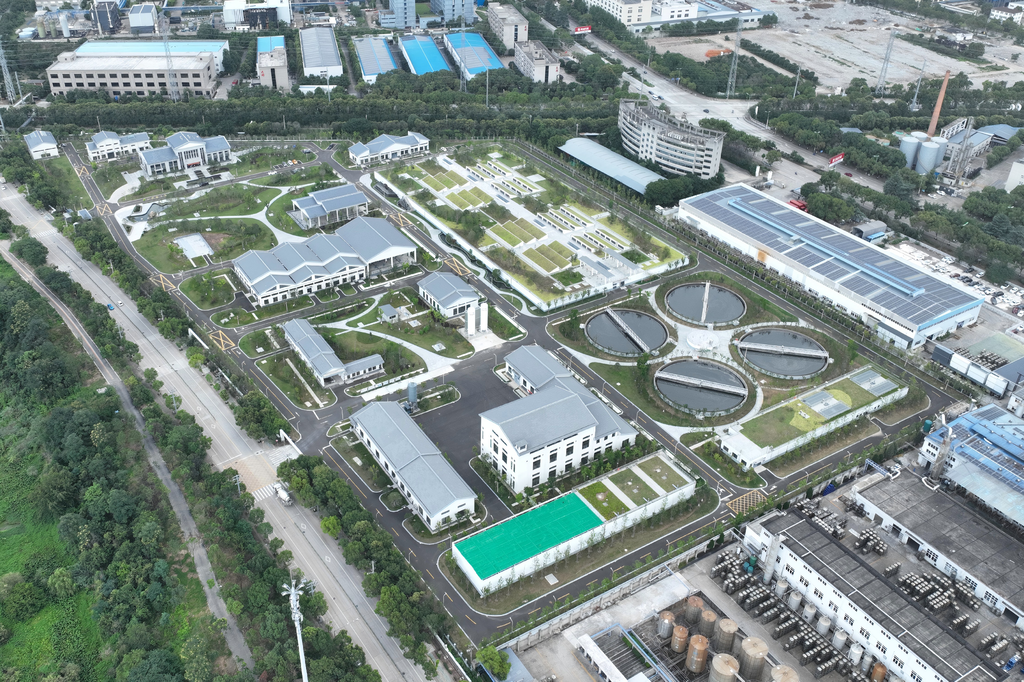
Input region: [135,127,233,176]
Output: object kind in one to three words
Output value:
house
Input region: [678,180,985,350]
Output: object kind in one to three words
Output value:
building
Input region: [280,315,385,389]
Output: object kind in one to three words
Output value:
house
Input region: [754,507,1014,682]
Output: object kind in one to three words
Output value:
building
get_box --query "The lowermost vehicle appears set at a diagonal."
[268,475,295,505]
